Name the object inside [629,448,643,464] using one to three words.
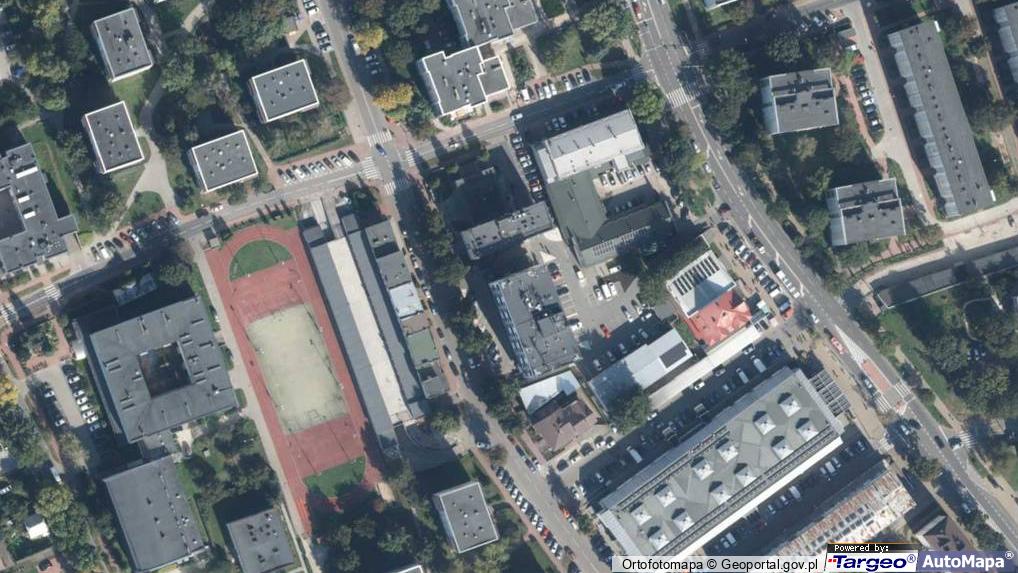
vehicle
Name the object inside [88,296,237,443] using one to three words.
building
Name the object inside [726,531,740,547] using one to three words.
vehicle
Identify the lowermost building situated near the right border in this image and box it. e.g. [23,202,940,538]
[923,525,972,573]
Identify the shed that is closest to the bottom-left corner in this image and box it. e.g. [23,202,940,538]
[24,512,49,541]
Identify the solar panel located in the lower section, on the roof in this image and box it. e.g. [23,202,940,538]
[660,342,688,368]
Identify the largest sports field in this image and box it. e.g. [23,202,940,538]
[205,224,383,529]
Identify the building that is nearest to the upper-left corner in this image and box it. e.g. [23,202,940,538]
[90,8,152,81]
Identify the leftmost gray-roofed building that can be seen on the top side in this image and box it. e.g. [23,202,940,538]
[0,144,78,275]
